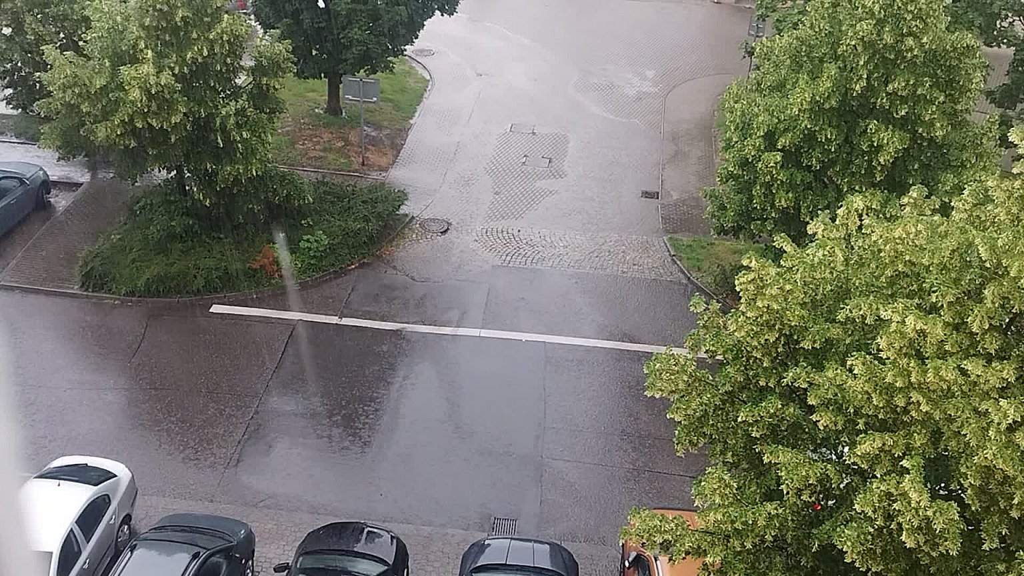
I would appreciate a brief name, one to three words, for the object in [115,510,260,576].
car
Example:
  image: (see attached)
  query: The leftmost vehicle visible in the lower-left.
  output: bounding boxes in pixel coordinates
[0,451,143,576]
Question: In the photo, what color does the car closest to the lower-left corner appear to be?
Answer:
white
